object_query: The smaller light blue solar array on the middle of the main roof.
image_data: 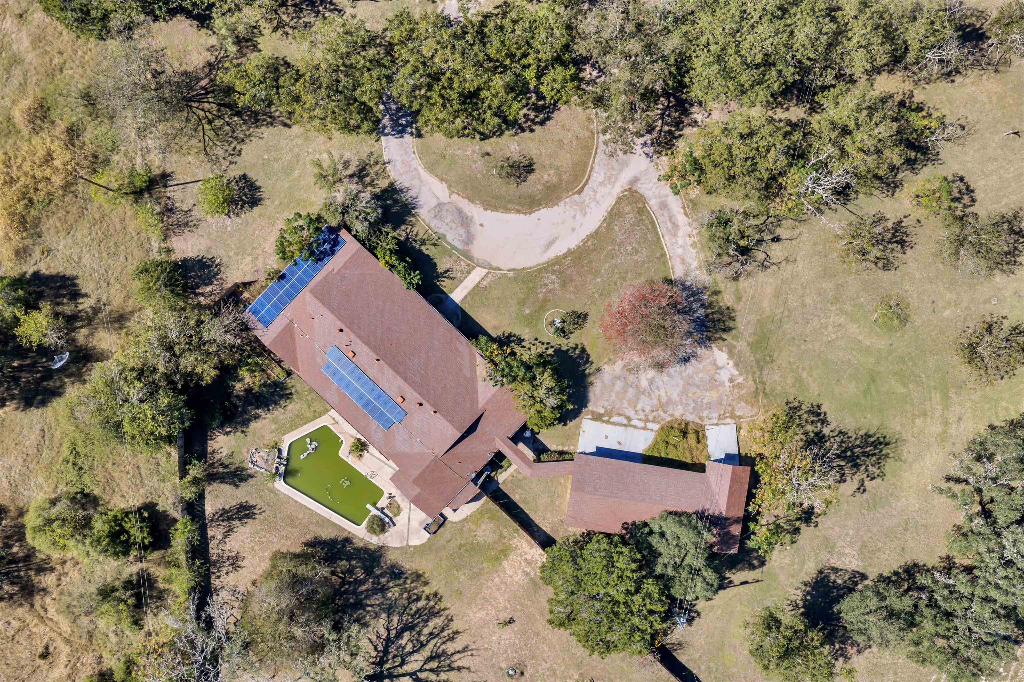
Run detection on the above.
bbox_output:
[321,345,406,431]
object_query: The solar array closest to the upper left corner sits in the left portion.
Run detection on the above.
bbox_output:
[248,224,345,326]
